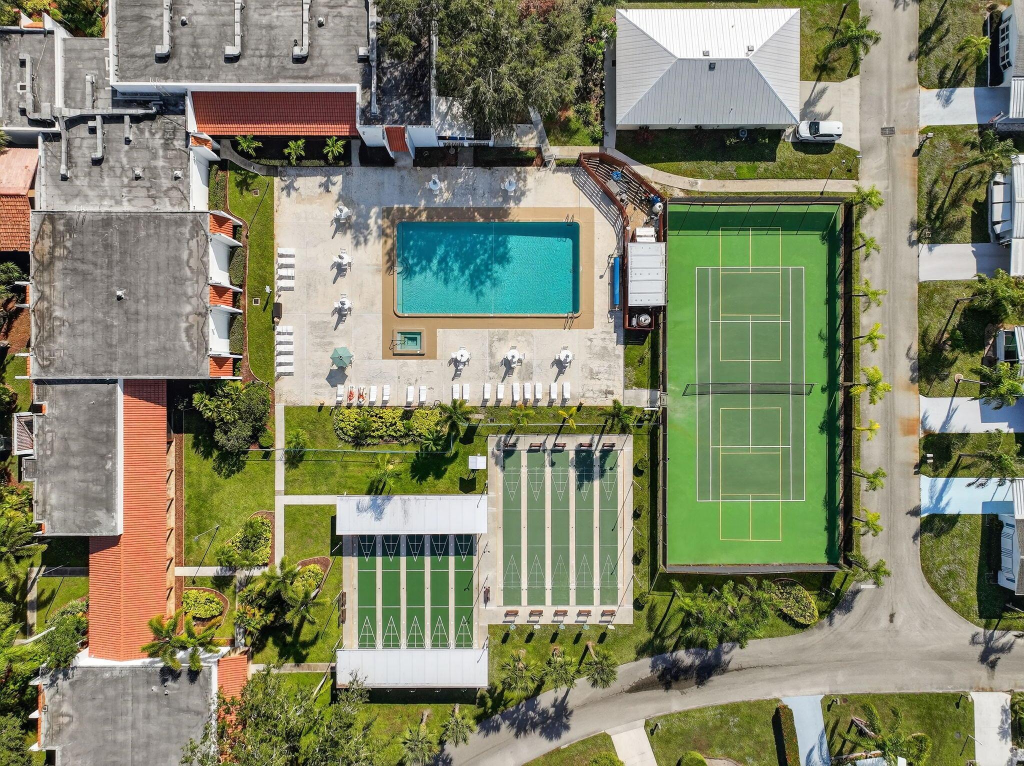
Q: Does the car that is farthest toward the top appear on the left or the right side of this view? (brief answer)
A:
right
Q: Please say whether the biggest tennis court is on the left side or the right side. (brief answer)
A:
right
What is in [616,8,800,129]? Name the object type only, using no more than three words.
house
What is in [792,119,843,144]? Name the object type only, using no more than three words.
car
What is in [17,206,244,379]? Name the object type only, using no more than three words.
building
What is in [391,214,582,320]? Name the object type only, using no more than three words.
swimming pool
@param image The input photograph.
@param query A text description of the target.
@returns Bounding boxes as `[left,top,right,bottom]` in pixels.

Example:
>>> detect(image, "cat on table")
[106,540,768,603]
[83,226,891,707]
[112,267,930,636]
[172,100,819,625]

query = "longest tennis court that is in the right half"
[666,203,841,565]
